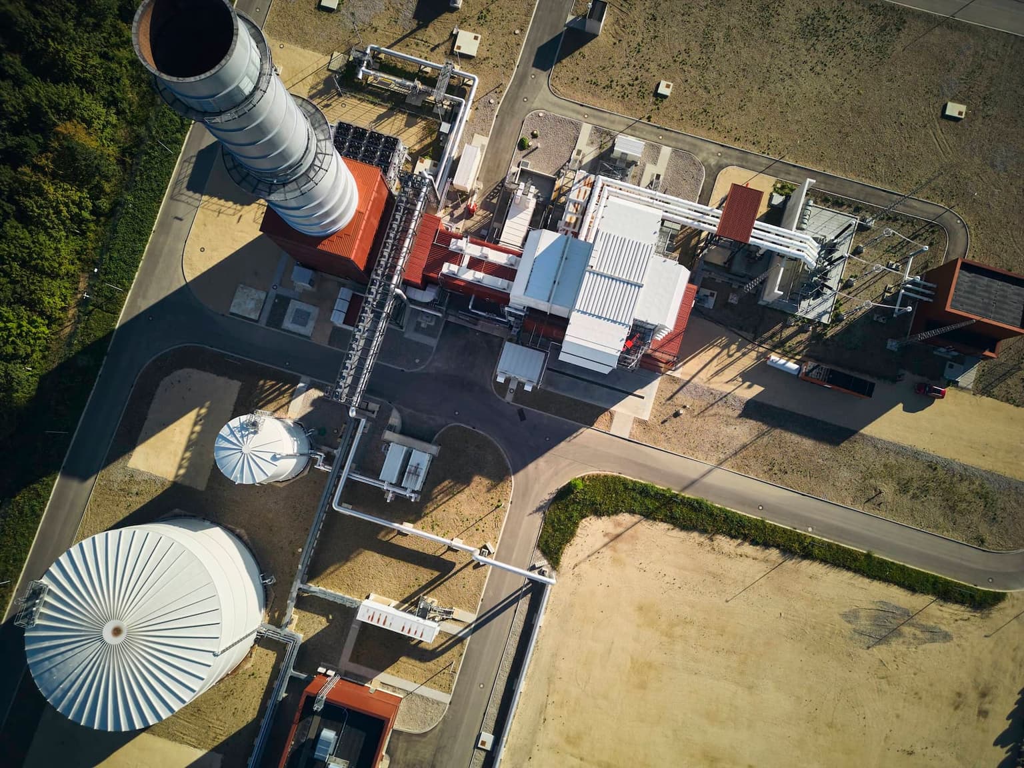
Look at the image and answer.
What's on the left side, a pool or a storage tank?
storage tank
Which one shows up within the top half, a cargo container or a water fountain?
cargo container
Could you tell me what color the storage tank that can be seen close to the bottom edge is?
white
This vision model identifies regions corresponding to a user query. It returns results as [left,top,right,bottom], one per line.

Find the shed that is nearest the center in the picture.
[496,341,549,392]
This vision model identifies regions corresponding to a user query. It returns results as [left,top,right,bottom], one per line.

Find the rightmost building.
[910,260,1024,351]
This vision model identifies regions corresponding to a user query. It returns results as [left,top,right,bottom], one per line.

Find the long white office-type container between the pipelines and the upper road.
[453,143,484,198]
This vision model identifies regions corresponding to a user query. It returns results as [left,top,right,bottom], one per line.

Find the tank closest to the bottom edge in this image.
[11,513,273,734]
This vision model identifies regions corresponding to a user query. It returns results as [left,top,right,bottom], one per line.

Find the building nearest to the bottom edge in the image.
[283,656,400,768]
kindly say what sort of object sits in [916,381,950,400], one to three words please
car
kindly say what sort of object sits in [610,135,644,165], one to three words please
building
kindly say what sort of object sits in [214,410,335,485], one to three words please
storage tank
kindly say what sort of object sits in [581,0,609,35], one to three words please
shed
